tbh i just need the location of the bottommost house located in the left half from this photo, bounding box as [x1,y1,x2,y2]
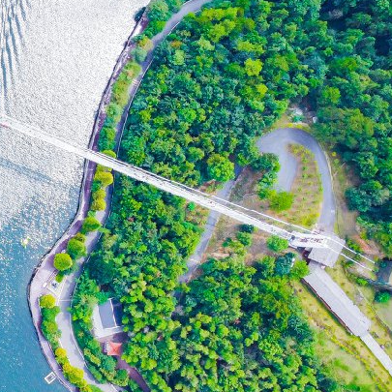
[97,298,127,329]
